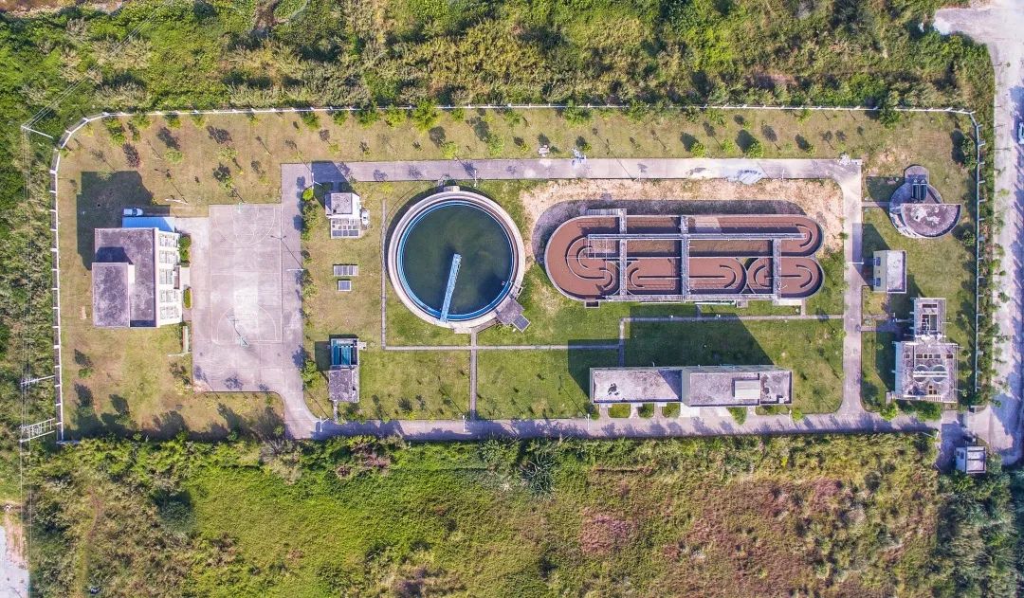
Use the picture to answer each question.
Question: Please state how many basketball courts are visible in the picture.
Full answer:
The photo contains exactly 1 basketball court.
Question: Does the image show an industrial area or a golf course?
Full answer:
The area seen from above is an industrial area.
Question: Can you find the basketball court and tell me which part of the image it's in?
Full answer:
The basketball court is in the left part of the image.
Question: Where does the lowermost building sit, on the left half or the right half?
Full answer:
You can find the lowermost building on the right side of the picture.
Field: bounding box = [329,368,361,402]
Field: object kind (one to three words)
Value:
house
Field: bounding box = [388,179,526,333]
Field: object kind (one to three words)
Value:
storage tank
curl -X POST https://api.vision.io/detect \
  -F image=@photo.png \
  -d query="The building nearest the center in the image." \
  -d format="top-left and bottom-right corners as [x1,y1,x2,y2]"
[472,286,526,336]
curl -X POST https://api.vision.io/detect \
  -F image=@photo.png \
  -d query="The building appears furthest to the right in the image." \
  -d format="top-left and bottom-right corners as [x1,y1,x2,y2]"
[955,443,987,473]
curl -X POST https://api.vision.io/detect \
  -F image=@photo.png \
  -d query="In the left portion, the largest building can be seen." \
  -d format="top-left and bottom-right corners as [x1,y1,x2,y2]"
[92,228,190,328]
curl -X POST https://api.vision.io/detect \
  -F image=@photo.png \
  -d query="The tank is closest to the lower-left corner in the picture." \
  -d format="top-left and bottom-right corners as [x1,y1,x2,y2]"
[330,338,367,369]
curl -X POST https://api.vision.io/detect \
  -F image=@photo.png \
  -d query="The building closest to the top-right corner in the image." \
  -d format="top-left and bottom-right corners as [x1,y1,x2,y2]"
[886,161,963,232]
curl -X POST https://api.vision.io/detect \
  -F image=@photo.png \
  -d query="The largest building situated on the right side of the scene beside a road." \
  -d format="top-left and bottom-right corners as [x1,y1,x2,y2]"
[590,365,796,406]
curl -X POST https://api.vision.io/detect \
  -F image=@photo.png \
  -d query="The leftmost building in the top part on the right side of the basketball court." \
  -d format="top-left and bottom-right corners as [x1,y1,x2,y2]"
[325,193,361,218]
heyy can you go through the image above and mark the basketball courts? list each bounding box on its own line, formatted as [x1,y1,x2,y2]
[192,205,282,391]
